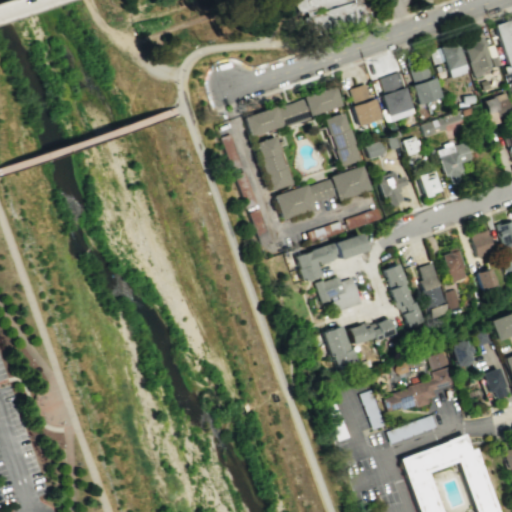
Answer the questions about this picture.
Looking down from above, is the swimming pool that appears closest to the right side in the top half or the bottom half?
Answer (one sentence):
The swimming pool that appears closest to the right side sits in the bottom half of the picture.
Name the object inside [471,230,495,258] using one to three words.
house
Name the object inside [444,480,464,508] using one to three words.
swimming pool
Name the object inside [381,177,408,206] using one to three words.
house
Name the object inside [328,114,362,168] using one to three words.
building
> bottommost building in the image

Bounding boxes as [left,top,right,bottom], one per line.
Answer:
[404,435,504,512]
